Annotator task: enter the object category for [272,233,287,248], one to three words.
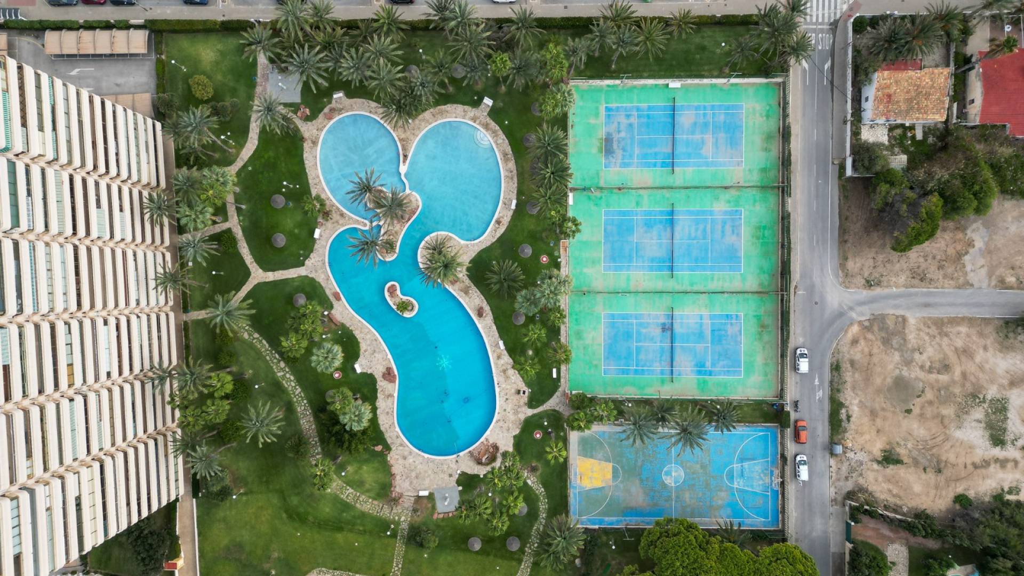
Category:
umbrella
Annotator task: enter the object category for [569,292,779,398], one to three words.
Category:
tennis court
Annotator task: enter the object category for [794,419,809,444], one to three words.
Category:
car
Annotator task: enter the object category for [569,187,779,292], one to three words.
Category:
tennis court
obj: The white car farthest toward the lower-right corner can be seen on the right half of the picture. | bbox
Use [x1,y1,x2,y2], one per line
[794,454,809,481]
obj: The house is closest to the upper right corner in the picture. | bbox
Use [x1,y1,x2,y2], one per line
[967,49,1024,138]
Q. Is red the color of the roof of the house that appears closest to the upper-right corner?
Yes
